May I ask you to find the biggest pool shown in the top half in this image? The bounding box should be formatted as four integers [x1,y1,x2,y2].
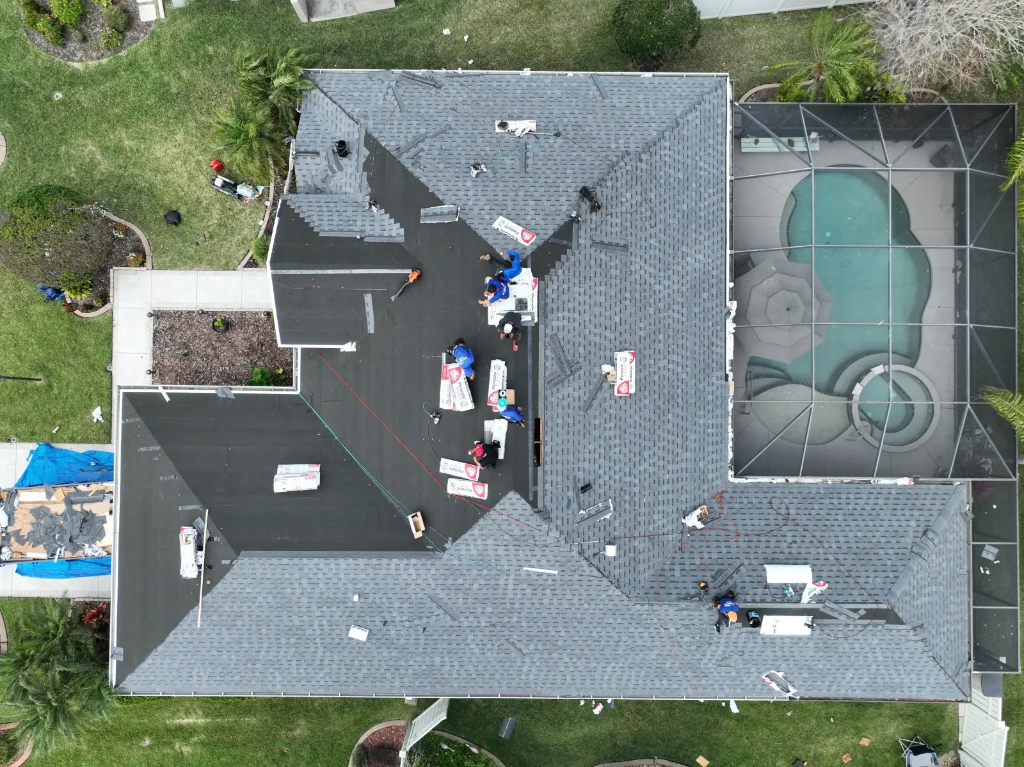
[747,164,933,445]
